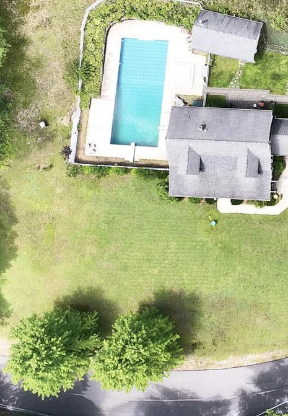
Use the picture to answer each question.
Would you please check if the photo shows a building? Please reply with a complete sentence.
Yes, a building can be made out from above.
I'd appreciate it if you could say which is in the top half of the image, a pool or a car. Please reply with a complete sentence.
Looking in the top half of the image, you will find a pool.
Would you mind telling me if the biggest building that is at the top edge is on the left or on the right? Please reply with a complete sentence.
It is on the right.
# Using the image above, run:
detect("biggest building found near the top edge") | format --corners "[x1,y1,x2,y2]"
[192,9,264,64]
